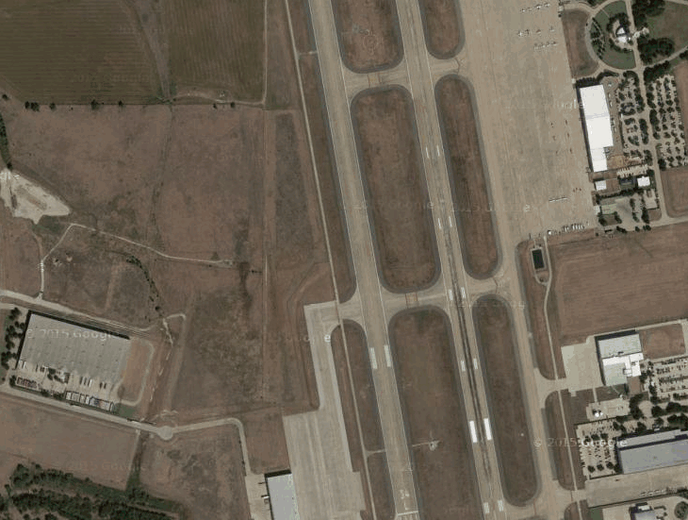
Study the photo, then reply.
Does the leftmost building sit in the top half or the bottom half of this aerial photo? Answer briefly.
bottom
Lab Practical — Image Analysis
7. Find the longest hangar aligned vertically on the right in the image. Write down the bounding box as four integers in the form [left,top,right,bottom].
[581,85,614,172]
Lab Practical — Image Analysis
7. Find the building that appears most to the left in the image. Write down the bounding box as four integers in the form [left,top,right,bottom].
[19,314,130,382]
